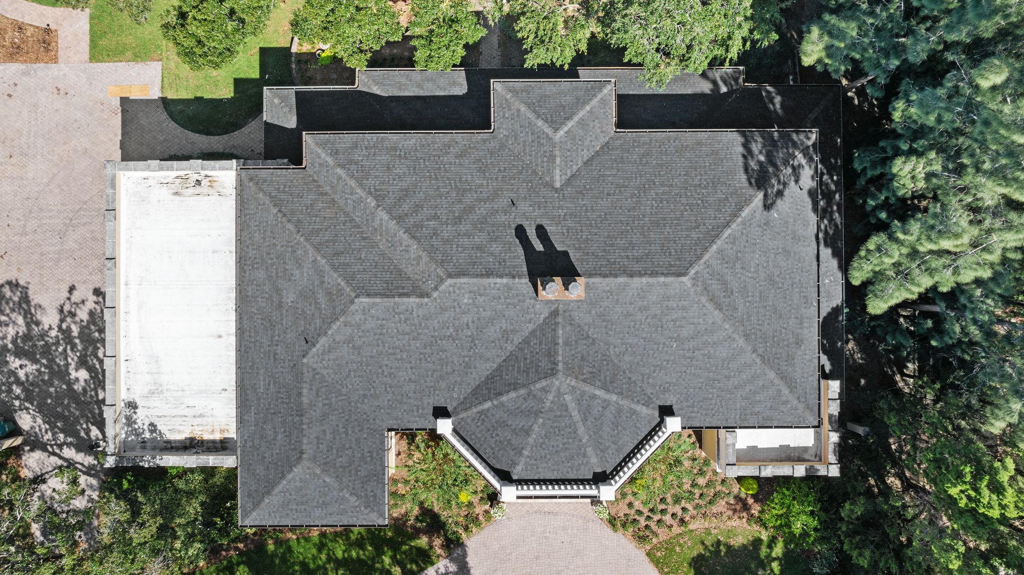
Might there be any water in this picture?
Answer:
No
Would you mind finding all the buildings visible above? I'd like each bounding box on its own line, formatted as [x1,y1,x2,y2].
[91,67,843,529]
